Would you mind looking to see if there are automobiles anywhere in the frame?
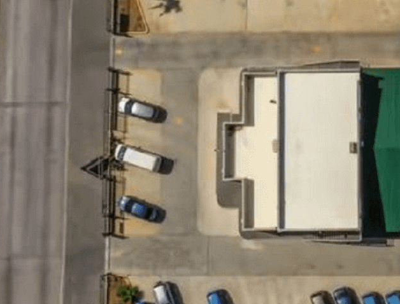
Yes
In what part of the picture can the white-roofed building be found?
right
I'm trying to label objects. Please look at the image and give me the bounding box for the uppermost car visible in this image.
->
[118,98,164,123]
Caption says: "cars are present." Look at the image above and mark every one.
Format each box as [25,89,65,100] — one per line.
[208,290,228,304]
[117,196,162,222]
[386,290,400,304]
[313,290,332,304]
[336,285,357,304]
[362,291,381,304]
[118,98,164,123]
[154,283,176,304]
